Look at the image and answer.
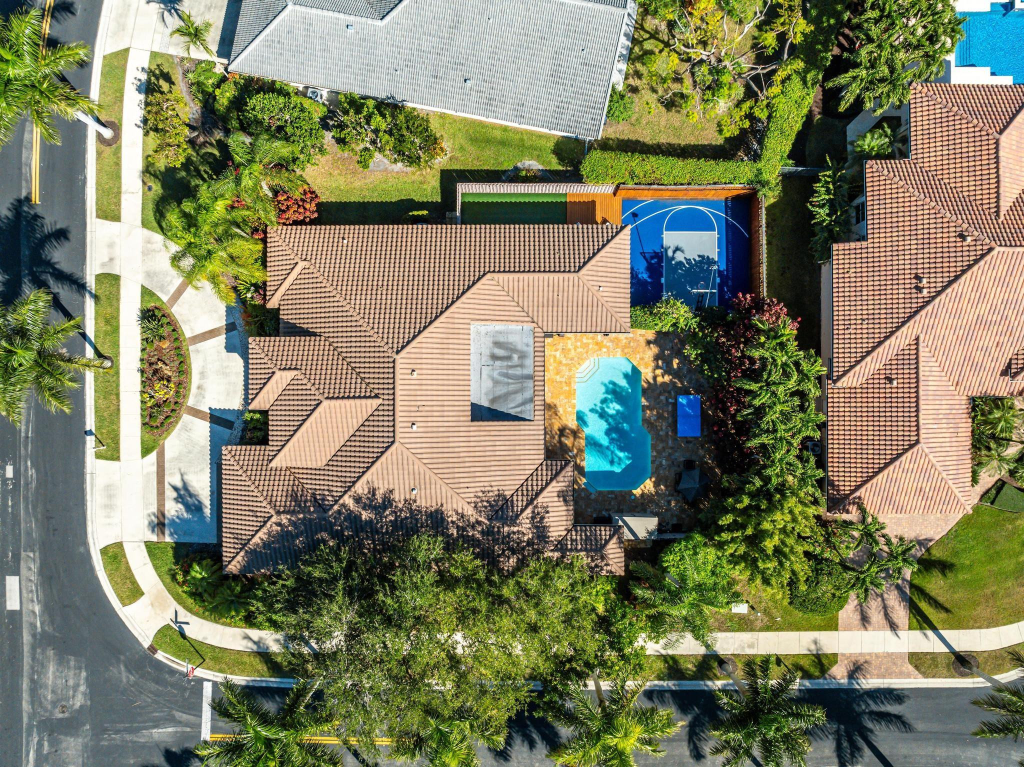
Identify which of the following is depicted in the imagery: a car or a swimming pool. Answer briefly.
swimming pool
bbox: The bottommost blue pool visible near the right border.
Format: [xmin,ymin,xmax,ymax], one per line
[956,12,1024,82]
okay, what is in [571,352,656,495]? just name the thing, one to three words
swimming pool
